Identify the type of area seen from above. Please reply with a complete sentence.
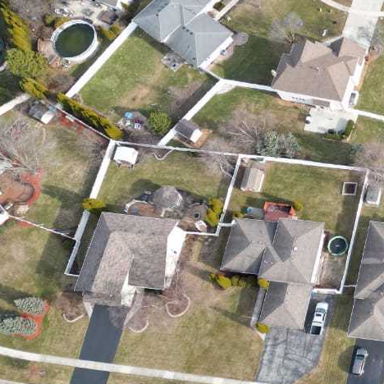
The picture captures a residential area.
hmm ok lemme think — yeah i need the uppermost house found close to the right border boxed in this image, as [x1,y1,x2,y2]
[273,42,369,107]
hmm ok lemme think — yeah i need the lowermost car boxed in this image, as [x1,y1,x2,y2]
[350,348,366,378]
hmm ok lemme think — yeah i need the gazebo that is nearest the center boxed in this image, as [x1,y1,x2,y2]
[156,186,187,214]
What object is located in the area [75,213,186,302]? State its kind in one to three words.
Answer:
house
